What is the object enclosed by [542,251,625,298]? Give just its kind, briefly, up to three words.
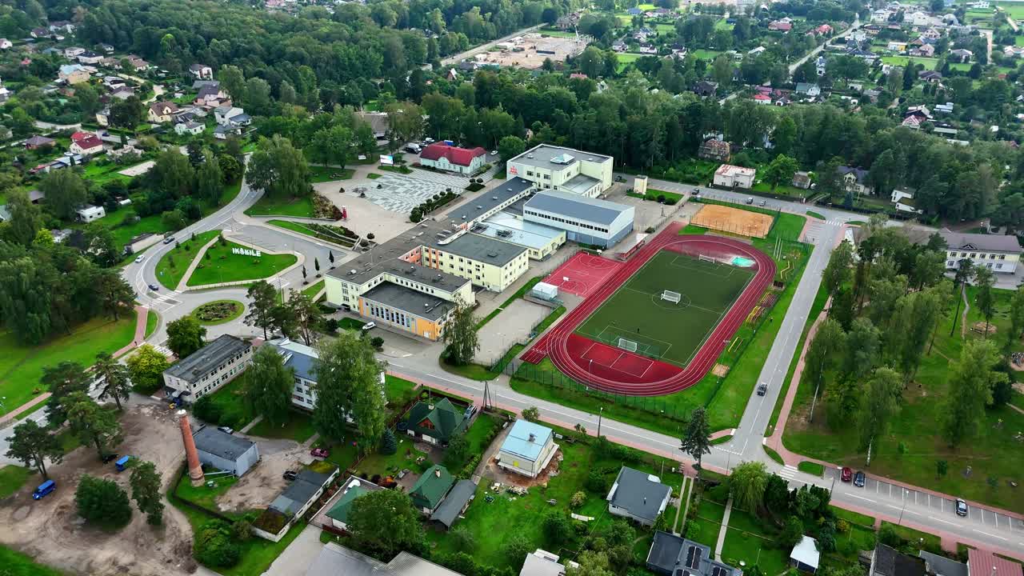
basketball court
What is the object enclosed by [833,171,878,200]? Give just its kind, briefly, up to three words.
house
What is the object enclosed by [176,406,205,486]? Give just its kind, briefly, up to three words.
chimney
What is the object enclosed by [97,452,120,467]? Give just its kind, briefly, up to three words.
car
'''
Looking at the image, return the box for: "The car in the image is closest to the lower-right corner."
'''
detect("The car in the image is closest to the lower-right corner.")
[955,495,968,514]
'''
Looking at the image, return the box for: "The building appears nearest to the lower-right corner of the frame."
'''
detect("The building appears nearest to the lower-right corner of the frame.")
[962,545,1017,576]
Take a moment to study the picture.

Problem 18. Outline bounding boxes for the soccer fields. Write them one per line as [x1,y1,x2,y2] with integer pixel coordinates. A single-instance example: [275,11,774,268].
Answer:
[574,250,757,367]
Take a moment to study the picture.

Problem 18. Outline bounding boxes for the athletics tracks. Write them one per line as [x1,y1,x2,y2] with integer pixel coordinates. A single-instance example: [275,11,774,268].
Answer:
[519,221,776,394]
